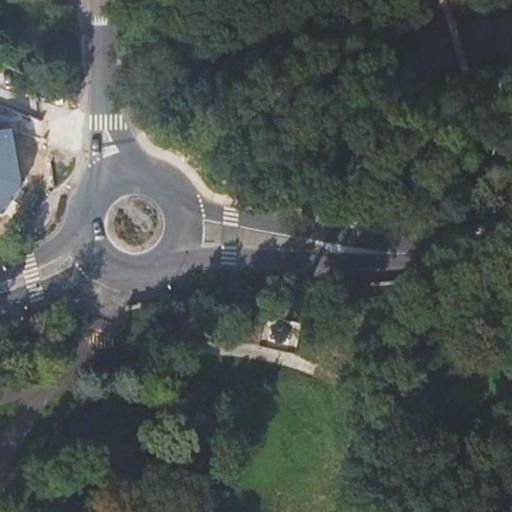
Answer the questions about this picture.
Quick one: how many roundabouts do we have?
1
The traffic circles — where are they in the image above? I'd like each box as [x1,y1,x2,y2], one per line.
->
[60,134,223,298]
